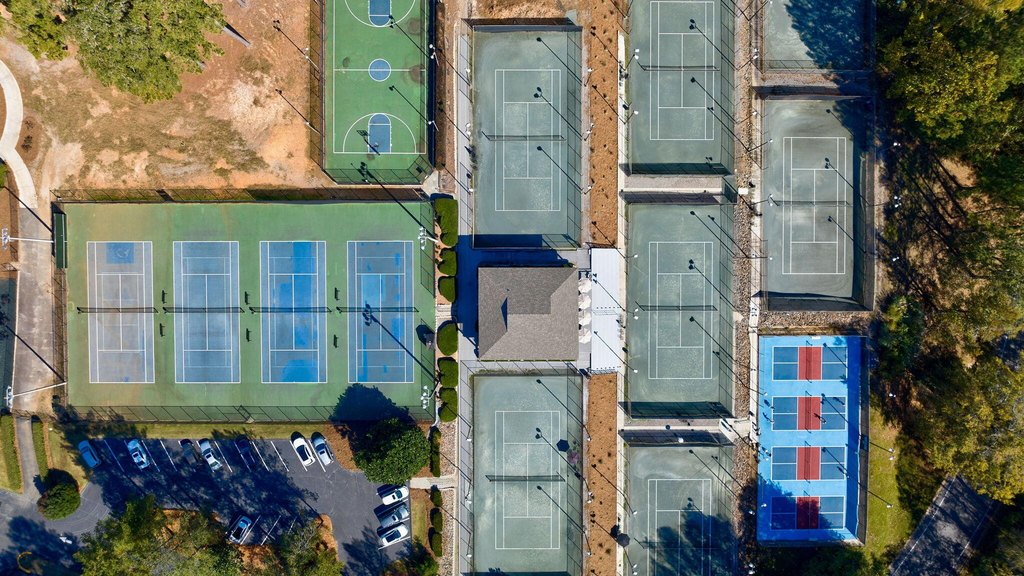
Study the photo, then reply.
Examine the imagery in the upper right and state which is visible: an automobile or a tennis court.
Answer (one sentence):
Visible in the upper right is a tennis court.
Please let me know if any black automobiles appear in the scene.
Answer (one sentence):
Yes, you can see a black automobile in this photo.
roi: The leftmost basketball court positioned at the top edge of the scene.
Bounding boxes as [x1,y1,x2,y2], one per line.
[324,0,433,184]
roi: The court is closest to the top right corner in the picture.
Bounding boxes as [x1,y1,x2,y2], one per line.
[763,0,865,69]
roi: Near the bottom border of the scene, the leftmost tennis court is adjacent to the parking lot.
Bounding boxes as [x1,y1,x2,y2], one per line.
[473,376,583,576]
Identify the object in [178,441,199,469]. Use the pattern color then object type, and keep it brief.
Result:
black car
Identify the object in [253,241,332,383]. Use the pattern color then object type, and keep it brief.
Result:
blue tennis court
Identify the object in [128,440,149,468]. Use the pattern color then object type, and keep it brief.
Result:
blue car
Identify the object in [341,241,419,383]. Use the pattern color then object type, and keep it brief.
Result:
blue tennis court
